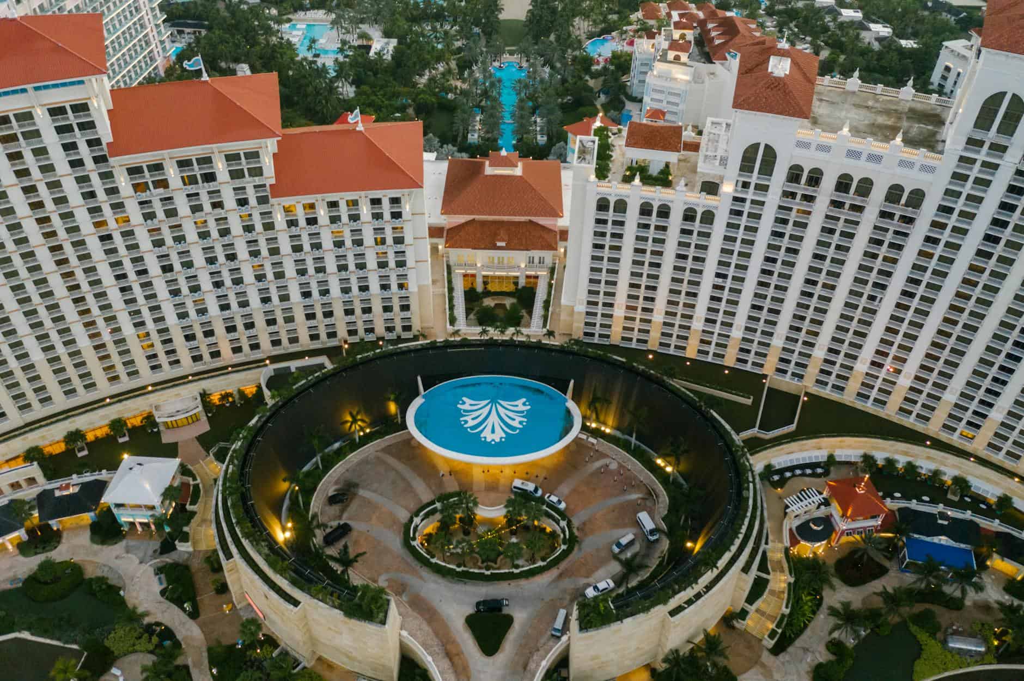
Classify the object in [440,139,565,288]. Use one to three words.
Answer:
building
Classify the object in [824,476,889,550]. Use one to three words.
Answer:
house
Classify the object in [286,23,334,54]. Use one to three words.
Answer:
swimming pool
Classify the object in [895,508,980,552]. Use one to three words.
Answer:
building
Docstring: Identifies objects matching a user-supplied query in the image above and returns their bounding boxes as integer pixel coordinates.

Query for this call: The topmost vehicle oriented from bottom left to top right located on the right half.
[610,530,638,553]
